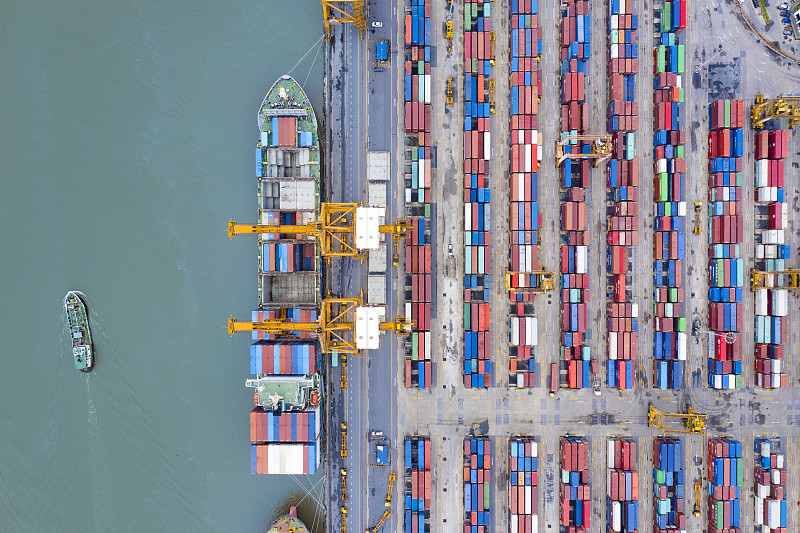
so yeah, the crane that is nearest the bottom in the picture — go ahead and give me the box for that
[649,401,712,438]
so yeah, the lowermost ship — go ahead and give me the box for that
[266,506,311,533]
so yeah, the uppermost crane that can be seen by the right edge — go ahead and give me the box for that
[752,95,800,131]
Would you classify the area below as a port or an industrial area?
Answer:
port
